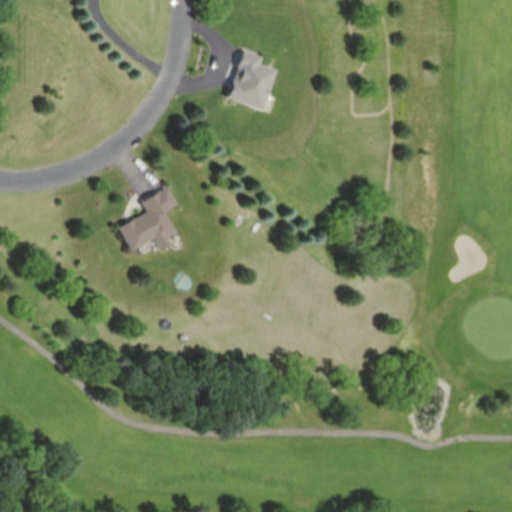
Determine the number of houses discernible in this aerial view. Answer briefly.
2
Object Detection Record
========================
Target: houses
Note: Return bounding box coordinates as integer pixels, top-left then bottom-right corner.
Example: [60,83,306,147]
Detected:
[120,186,180,251]
[228,48,278,114]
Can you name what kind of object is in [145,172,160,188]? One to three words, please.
vehicle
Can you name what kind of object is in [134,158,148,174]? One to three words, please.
vehicle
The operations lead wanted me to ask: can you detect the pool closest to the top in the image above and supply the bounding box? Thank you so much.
[174,272,192,291]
